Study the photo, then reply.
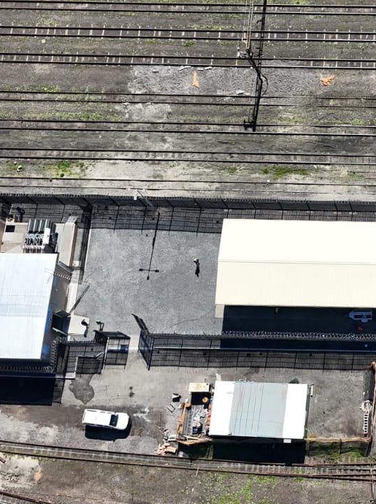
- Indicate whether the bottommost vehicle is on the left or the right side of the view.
left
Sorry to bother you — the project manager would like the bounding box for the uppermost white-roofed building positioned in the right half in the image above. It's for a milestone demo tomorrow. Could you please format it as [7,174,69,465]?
[215,217,376,311]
